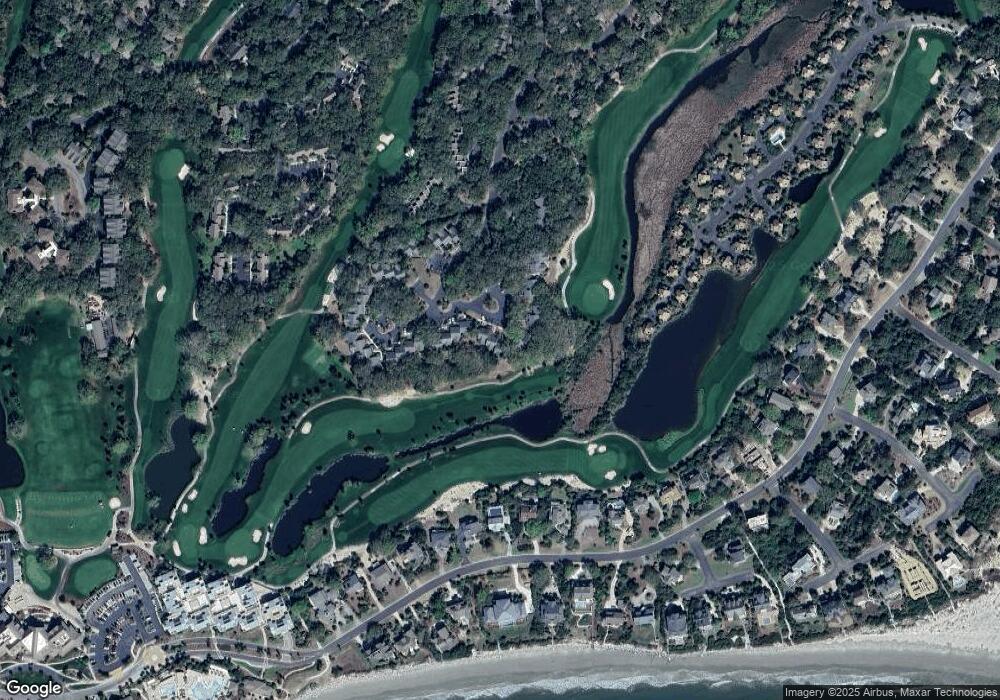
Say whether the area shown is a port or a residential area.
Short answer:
residential area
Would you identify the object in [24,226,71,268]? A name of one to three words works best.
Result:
building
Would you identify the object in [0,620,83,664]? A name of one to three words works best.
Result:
building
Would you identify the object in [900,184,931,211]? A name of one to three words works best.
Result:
house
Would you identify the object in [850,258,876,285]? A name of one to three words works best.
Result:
house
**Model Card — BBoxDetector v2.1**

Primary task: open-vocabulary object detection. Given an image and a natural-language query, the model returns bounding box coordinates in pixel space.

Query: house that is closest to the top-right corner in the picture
[965,47,999,77]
